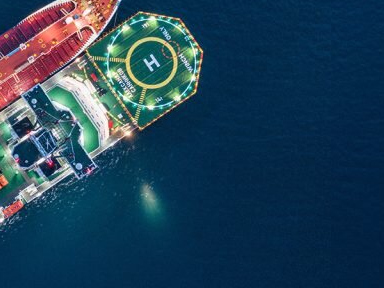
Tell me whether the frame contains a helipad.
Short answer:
Yes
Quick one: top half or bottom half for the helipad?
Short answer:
top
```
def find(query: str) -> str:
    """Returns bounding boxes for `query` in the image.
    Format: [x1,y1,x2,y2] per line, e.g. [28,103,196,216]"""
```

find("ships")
[0,55,137,223]
[0,0,122,109]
